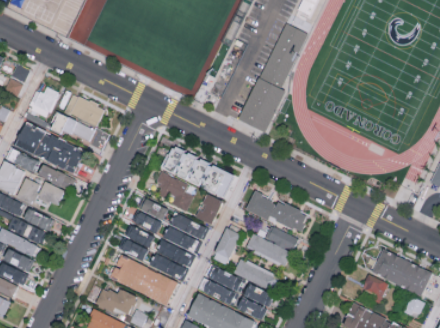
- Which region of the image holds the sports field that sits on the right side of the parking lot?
top right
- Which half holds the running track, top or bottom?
top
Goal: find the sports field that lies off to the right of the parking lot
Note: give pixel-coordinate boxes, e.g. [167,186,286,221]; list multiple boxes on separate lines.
[306,0,440,154]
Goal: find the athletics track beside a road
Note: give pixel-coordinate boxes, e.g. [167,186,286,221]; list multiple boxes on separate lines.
[290,0,440,184]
